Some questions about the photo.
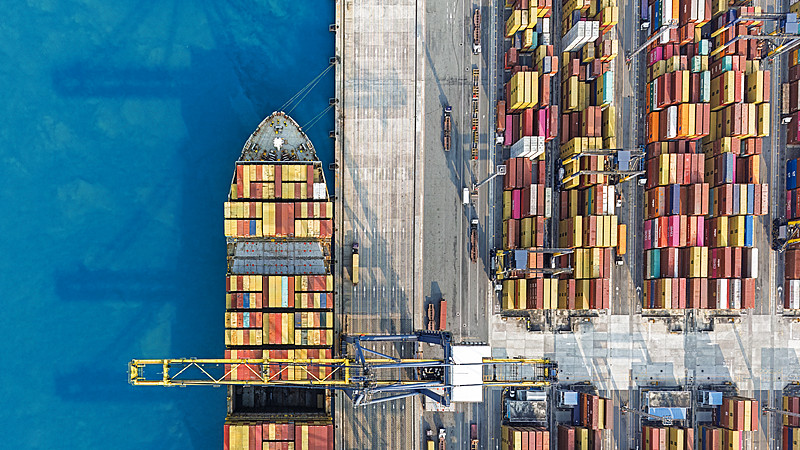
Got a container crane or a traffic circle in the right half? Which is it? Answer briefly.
container crane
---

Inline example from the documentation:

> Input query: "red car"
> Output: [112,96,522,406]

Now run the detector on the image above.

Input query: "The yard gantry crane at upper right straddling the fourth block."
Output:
[696,9,800,62]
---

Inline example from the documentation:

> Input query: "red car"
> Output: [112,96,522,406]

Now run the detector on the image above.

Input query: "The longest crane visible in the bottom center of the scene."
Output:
[130,327,557,406]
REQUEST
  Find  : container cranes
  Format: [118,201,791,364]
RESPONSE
[696,9,800,62]
[555,141,648,183]
[775,219,800,254]
[130,327,557,406]
[489,246,577,281]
